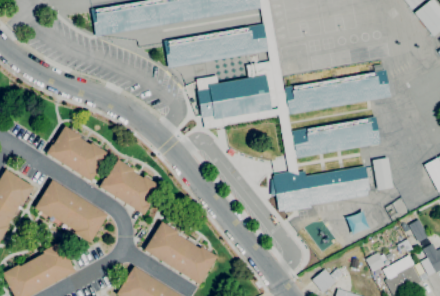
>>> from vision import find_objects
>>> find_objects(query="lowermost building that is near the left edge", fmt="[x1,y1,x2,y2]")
[4,247,74,296]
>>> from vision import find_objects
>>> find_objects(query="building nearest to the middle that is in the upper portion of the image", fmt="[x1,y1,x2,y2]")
[197,62,274,118]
